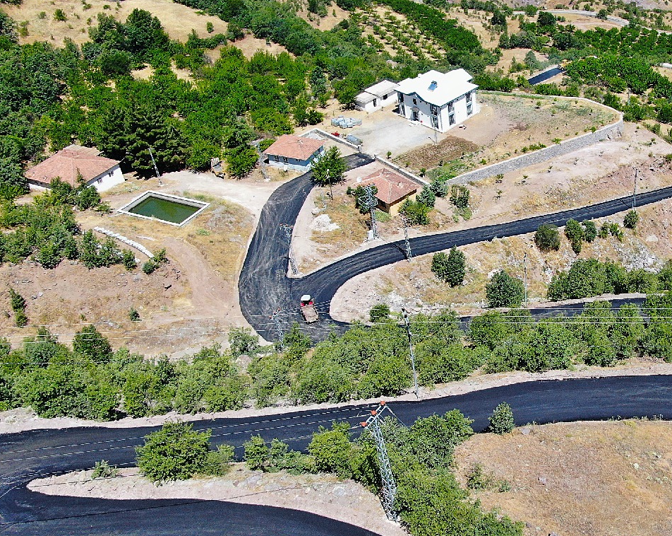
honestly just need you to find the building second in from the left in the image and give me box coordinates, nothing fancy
[264,133,326,172]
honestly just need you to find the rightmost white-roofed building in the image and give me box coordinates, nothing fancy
[396,69,477,129]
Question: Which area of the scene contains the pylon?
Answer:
bottom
